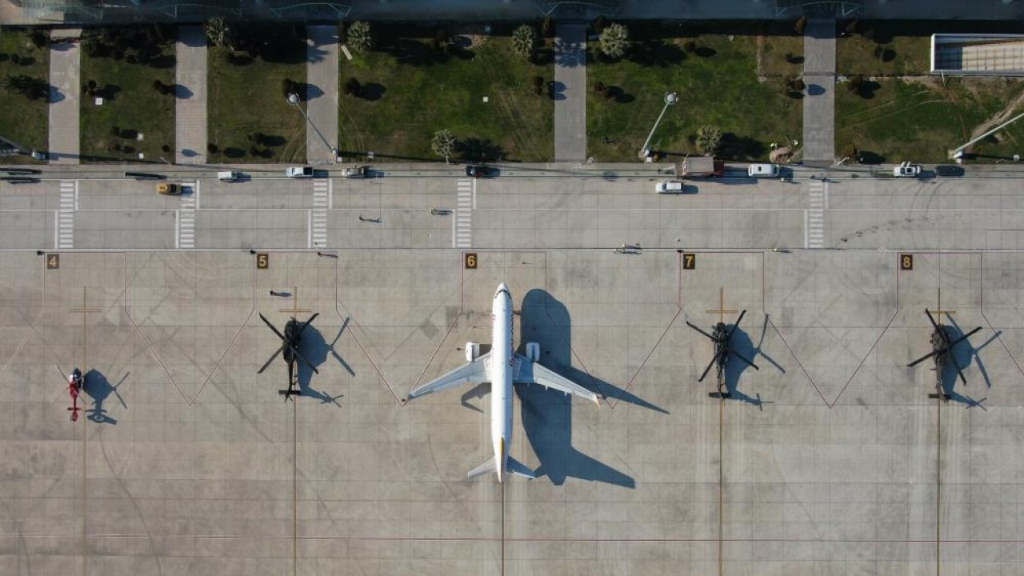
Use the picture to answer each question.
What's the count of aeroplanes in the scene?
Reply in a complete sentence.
Just 1 aeroplane appears in this view.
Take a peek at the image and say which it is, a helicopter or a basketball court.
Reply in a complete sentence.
I can see a helicopter in this picture.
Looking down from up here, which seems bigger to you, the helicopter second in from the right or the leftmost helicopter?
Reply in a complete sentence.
The helicopter second in from the right is larger than the leftmost helicopter.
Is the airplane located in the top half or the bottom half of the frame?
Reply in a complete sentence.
Seen from above, the airplane lies in the bottom half of the view.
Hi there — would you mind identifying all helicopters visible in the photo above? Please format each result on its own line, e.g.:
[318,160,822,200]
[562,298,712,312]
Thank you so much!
[259,313,321,404]
[687,312,757,405]
[906,308,982,406]
[54,364,93,422]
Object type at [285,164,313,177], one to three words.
vehicle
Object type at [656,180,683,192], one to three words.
vehicle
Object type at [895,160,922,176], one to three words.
car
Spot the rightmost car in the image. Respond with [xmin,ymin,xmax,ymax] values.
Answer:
[938,163,966,176]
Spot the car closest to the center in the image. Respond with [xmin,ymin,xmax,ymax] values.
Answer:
[466,164,488,176]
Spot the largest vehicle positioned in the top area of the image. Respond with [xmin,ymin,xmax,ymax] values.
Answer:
[673,156,722,178]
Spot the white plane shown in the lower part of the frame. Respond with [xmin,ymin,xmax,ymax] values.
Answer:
[406,283,599,484]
